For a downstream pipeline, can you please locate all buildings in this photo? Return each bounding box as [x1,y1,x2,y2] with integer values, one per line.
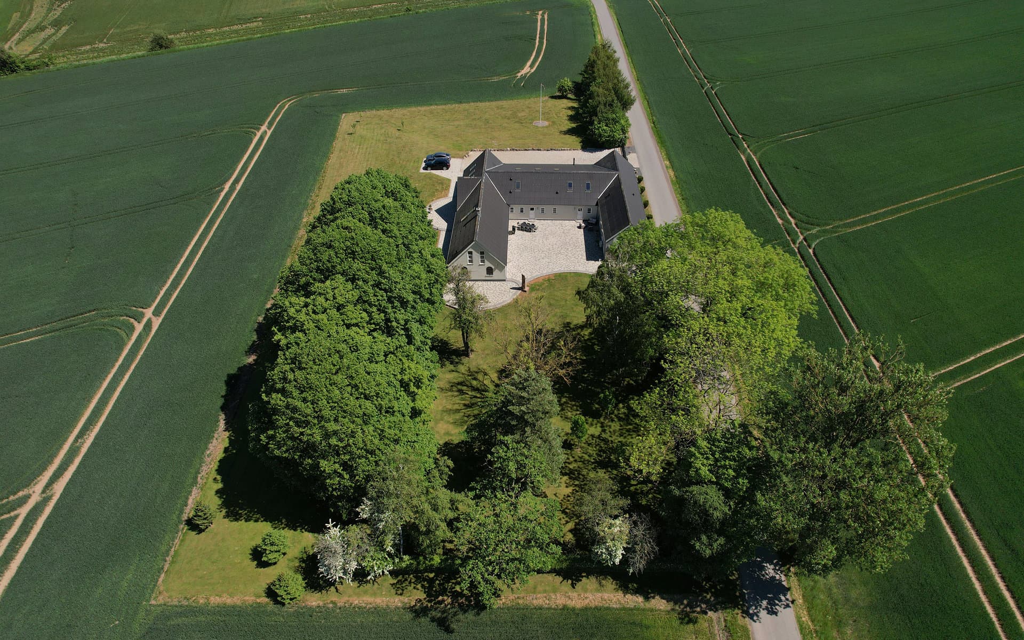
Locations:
[447,149,647,280]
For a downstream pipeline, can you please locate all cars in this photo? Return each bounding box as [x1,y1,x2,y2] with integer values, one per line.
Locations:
[426,157,451,169]
[424,151,452,161]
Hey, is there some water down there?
No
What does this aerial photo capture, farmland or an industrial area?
farmland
